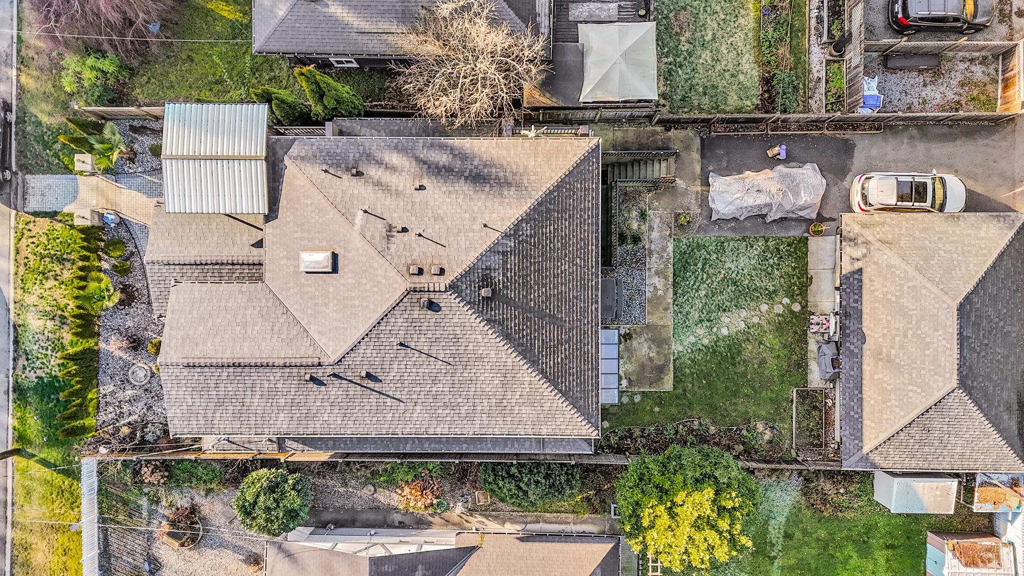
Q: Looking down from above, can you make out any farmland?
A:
No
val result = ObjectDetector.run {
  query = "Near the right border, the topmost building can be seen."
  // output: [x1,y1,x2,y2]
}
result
[836,211,1024,473]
